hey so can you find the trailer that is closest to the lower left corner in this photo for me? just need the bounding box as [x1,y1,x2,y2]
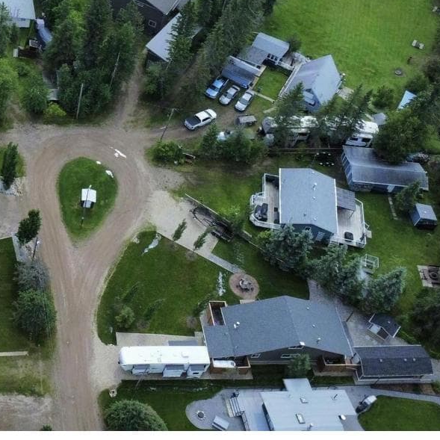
[114,345,210,382]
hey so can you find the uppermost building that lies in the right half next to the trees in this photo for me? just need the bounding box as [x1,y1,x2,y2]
[237,33,292,71]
